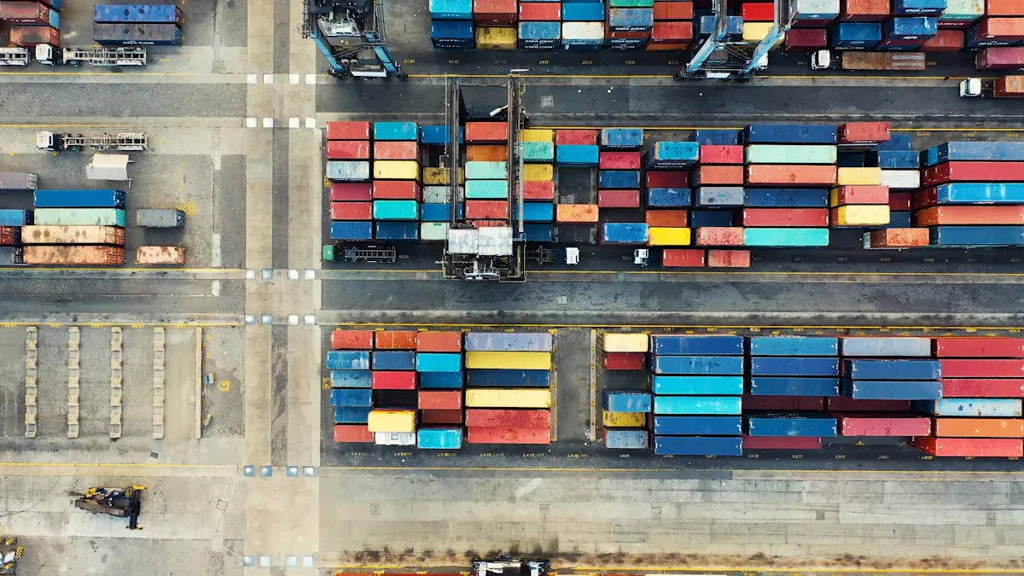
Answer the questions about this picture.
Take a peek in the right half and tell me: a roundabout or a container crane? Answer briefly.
container crane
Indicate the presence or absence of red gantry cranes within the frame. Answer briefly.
No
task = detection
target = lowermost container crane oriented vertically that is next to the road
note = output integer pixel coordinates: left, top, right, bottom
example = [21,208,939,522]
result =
[432,70,539,290]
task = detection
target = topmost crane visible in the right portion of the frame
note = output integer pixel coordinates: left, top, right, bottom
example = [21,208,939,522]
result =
[673,0,804,84]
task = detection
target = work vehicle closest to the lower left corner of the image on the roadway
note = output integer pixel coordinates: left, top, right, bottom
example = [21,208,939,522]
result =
[64,481,150,535]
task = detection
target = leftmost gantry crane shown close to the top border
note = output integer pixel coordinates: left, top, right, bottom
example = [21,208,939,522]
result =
[303,0,417,82]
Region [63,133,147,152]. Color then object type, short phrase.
white trailer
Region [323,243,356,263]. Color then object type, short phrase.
green vehicle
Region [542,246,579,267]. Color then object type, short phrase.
white truck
